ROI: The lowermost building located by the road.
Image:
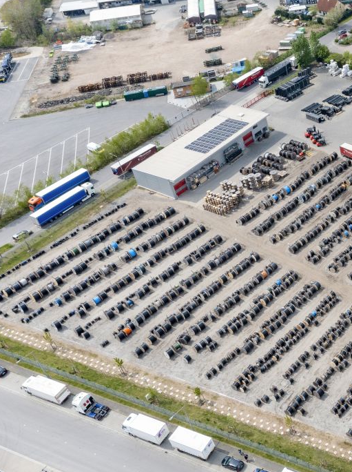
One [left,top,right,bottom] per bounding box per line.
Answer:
[129,104,273,200]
